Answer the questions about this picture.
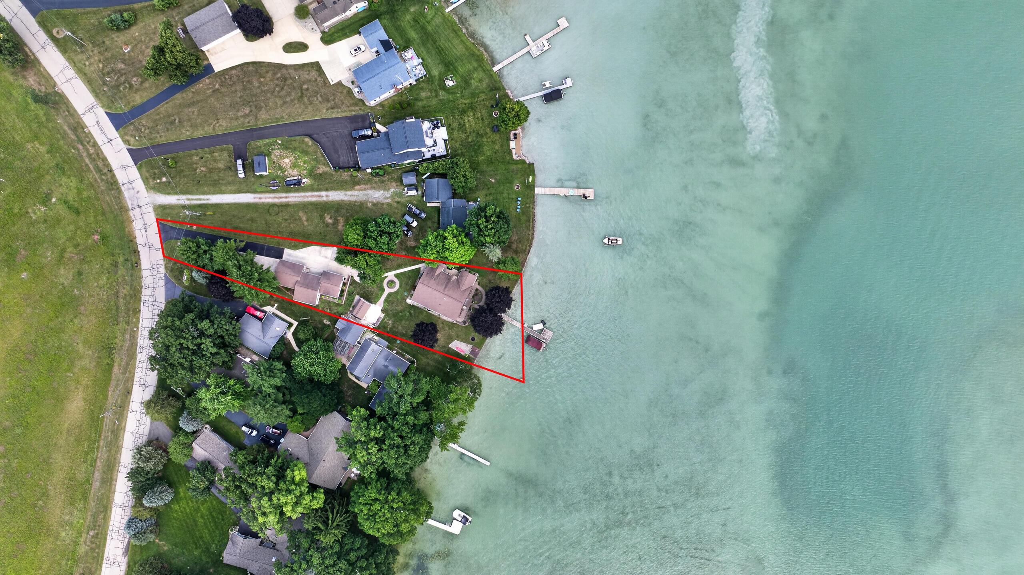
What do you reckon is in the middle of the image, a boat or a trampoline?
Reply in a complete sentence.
It is a boat that can be seen in the middle of the image.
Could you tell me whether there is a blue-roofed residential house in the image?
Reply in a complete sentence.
Yes, there's a blue-roofed residential house down there.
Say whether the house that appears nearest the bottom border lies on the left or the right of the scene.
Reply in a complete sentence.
The house that appears nearest the bottom border is on the left side of the image.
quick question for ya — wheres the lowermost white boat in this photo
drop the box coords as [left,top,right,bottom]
[454,509,472,525]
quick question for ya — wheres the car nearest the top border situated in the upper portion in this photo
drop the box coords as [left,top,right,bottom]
[349,44,367,57]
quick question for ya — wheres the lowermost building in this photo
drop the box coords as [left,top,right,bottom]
[223,527,291,575]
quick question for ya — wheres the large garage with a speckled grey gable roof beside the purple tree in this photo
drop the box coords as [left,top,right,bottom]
[183,0,243,52]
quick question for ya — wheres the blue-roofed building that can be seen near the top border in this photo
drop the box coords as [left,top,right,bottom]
[352,19,412,104]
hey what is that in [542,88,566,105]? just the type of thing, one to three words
boat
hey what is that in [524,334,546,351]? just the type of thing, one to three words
boat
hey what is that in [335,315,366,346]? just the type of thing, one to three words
building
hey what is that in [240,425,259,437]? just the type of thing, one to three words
vehicle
